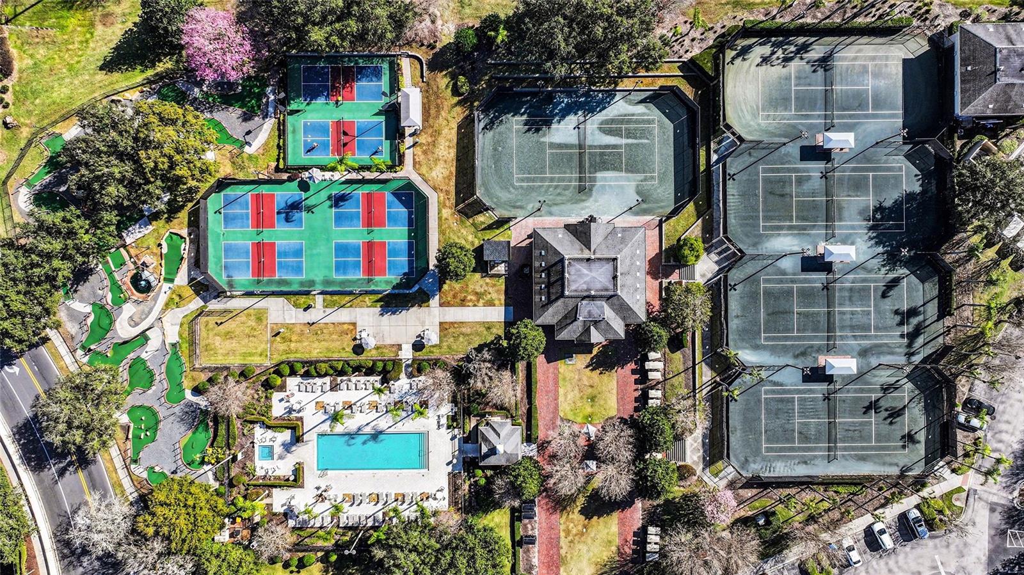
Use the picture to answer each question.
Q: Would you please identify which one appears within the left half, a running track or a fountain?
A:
fountain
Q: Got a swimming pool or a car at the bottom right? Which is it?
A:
car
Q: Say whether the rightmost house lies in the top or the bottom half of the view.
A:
top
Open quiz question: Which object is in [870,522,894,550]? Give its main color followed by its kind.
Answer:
white car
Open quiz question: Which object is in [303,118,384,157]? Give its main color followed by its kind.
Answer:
blue sports court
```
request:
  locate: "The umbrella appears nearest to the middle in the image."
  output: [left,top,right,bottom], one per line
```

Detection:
[424,331,437,345]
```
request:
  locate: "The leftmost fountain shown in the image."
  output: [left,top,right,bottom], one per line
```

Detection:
[124,264,158,298]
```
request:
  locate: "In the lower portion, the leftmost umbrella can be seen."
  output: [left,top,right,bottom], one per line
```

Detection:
[283,506,297,521]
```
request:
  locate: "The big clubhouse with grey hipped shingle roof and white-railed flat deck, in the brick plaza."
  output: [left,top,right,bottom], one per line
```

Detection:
[533,223,647,344]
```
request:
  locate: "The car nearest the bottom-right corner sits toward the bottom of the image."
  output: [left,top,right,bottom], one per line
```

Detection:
[905,509,928,539]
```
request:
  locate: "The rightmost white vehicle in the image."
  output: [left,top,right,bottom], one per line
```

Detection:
[967,415,987,433]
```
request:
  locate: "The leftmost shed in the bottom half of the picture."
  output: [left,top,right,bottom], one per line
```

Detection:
[224,516,252,543]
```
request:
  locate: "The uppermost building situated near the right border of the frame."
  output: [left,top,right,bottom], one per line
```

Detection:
[951,23,1024,116]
